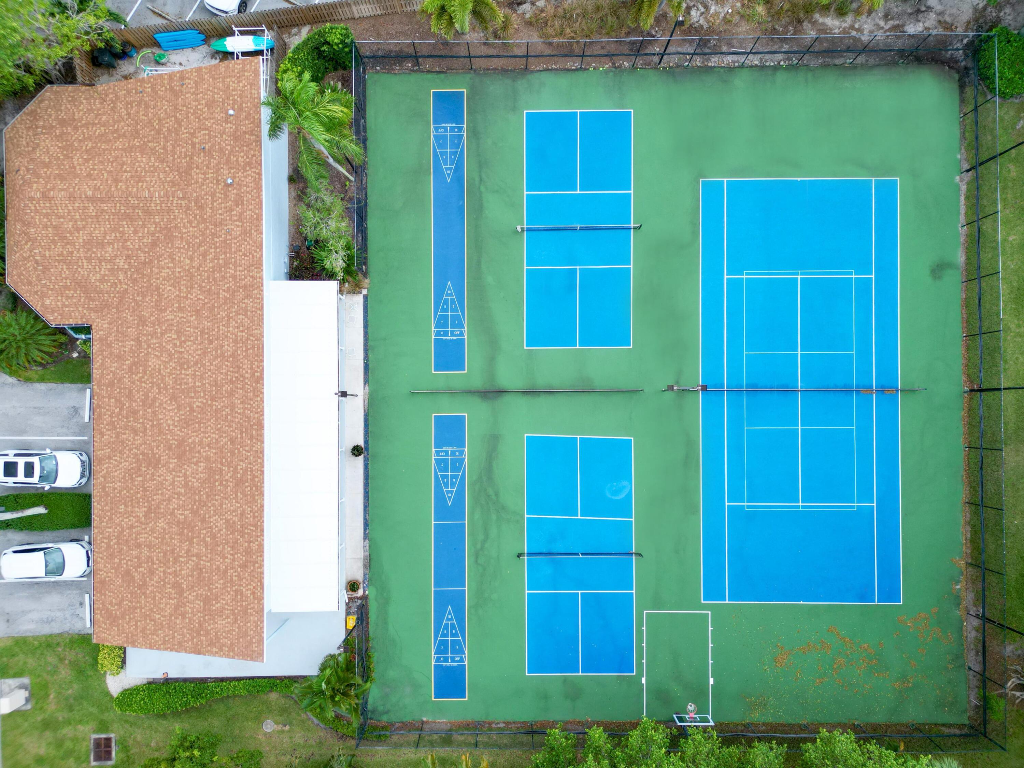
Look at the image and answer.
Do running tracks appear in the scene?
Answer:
No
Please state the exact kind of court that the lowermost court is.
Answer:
basketball court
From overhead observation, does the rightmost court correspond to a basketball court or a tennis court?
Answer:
tennis court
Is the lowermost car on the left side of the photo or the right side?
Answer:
left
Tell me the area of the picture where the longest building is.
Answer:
left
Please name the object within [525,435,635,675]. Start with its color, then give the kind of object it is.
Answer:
blue sports court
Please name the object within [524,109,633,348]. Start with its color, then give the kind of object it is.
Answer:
blue sports court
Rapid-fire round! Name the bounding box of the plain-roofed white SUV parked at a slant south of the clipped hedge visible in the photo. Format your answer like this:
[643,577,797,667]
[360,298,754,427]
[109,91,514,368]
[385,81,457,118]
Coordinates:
[0,538,90,583]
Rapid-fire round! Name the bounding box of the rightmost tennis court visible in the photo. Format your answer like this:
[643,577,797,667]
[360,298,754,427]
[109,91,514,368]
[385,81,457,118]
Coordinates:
[700,178,903,604]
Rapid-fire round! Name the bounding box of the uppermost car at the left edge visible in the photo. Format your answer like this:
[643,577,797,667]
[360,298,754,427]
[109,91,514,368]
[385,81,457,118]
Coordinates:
[0,447,90,493]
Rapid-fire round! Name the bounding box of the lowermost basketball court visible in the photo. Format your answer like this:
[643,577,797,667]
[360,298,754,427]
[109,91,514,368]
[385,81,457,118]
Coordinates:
[642,611,714,720]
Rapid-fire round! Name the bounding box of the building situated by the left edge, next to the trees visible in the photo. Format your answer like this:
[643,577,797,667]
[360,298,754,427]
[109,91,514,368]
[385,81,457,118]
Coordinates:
[1,56,345,663]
